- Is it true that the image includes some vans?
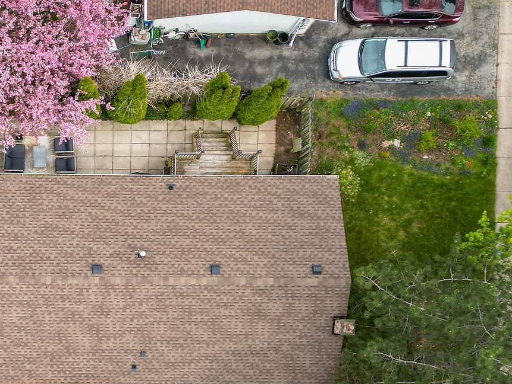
Yes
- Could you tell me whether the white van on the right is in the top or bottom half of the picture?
top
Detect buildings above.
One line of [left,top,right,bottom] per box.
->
[0,170,358,384]
[142,0,340,36]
